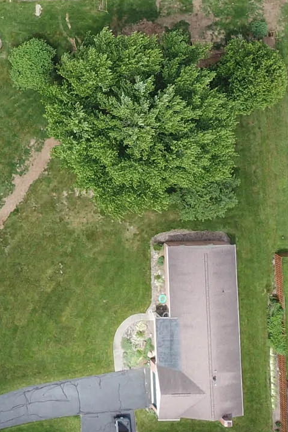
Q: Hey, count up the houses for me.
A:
one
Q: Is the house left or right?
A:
right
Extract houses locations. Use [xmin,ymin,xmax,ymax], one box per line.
[151,242,245,423]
